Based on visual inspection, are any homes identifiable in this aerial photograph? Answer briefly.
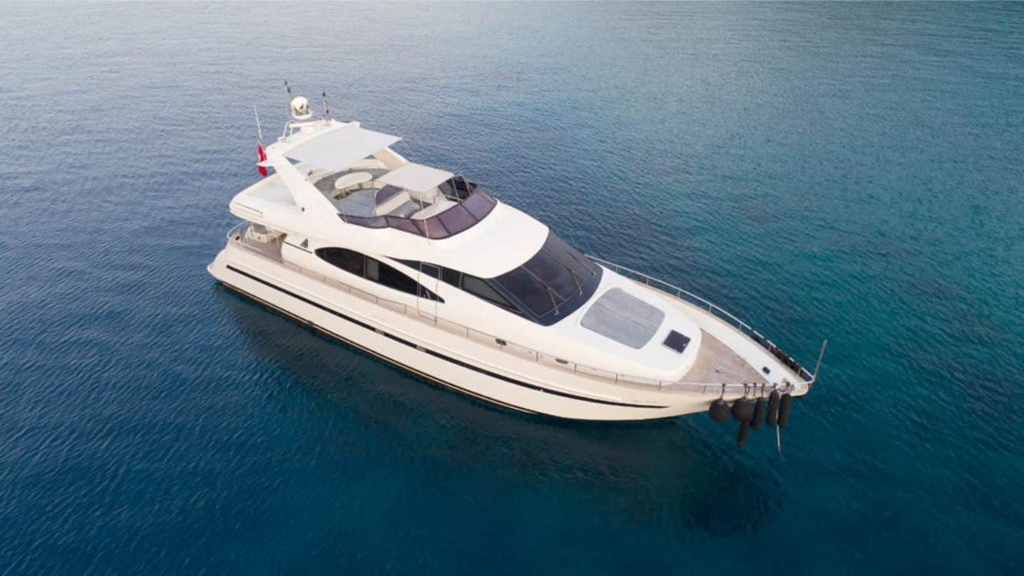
No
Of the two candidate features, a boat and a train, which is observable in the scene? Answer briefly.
boat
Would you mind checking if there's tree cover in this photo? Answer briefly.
No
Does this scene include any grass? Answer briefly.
No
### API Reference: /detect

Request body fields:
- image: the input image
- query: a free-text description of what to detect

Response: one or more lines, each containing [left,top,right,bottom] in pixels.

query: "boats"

[207,84,829,420]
